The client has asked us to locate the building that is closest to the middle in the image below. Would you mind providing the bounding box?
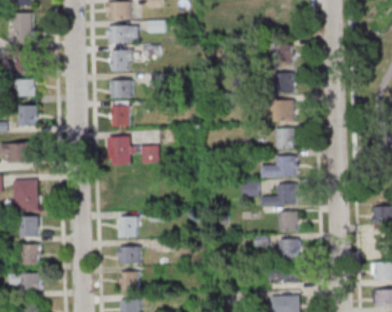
[142,145,160,164]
